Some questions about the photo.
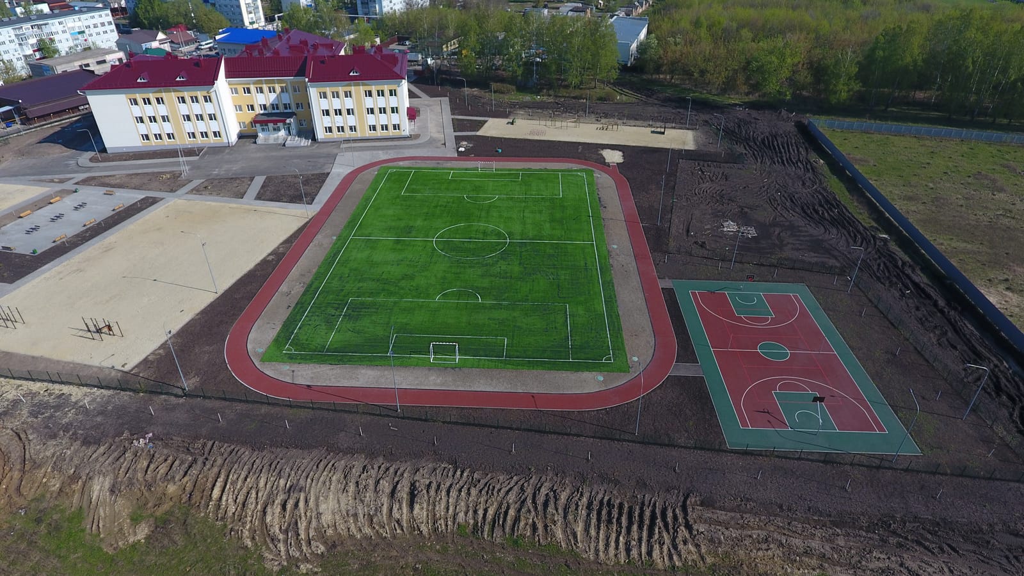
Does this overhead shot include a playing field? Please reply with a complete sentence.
Yes, a playing field appears in the view.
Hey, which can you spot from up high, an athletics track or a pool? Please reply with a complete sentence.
It is an athletics track that can be seen here.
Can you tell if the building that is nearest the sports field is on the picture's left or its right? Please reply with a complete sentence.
You can find the building that is nearest the sports field on the left side of the picture.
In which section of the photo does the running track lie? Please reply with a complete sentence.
The running track is in the center part of the image.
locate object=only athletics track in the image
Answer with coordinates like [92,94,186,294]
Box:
[223,156,677,409]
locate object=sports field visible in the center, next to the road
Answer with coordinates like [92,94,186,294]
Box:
[261,166,630,372]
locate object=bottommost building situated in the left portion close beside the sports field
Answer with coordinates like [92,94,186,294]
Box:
[81,20,423,152]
